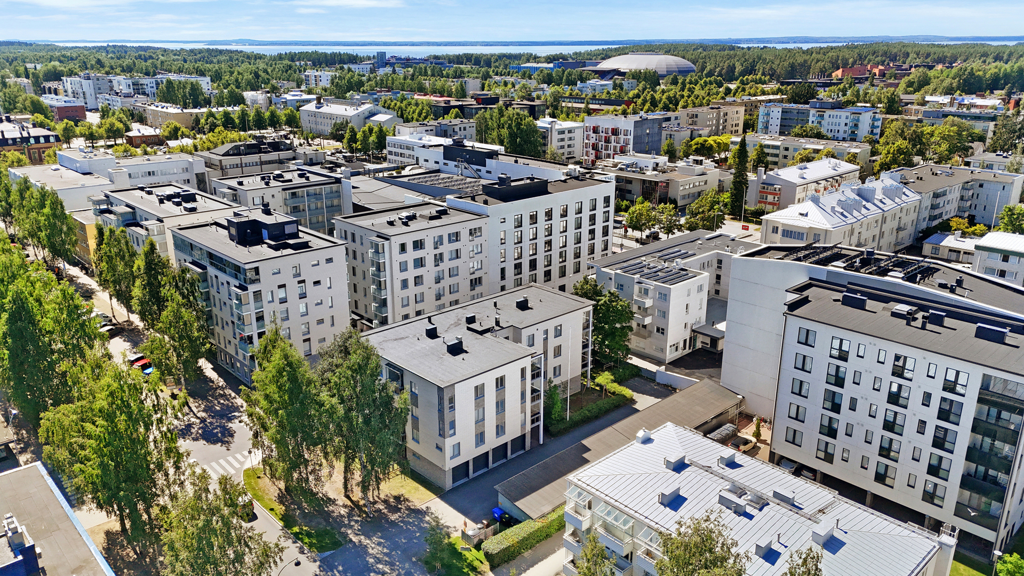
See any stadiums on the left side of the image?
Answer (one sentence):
No, the scene shows no stadium on the left side of the image.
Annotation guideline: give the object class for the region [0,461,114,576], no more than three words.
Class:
building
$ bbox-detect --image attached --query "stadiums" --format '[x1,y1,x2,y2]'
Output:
[589,53,699,83]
